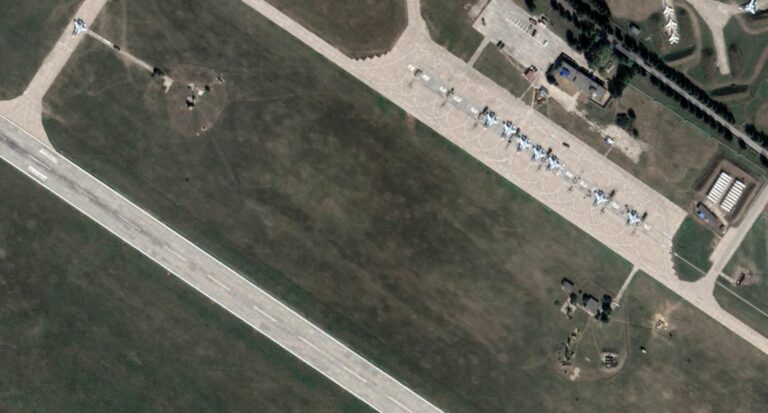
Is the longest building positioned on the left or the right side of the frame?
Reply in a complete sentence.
You can find the longest building on the right side of the picture.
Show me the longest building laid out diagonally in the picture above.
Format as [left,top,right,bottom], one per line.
[558,62,610,106]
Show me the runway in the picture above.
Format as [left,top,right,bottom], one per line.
[0,114,444,413]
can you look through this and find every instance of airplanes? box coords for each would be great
[742,1,760,13]
[596,188,608,205]
[73,16,86,33]
[505,121,517,138]
[519,134,531,151]
[667,19,676,31]
[486,110,498,127]
[628,208,640,225]
[663,4,673,17]
[549,154,561,171]
[533,144,547,161]
[669,34,680,46]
